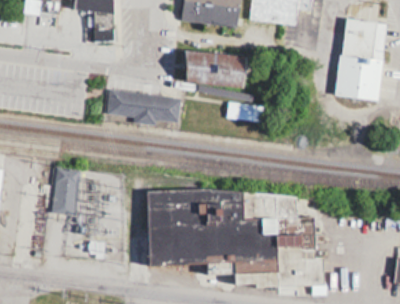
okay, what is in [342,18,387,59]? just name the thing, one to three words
building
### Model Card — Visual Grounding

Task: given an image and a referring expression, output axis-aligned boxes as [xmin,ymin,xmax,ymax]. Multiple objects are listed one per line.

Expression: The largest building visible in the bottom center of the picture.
[148,188,272,266]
